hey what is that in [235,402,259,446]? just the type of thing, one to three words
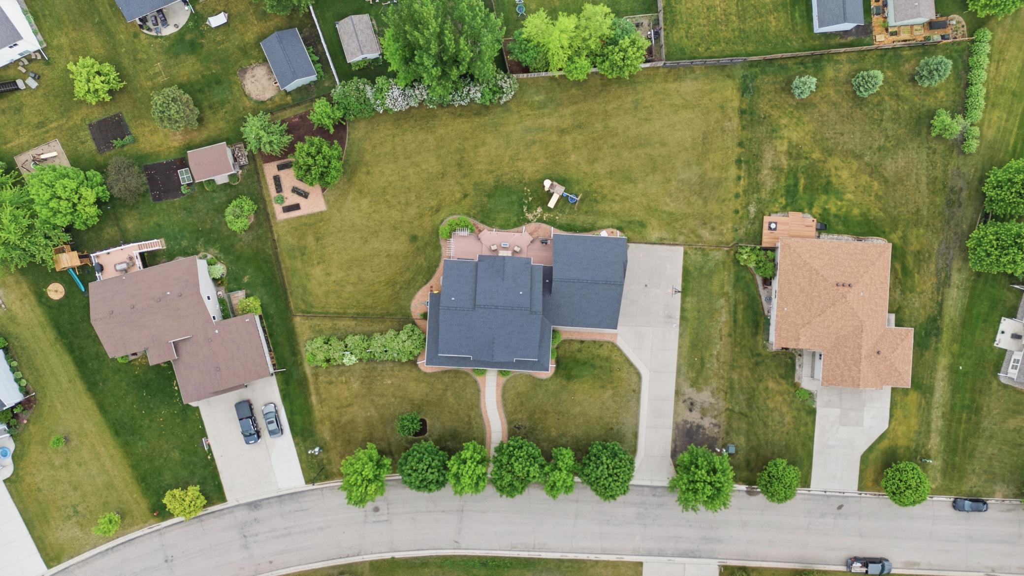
truck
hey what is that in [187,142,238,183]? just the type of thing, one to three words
shed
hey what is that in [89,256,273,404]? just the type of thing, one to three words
house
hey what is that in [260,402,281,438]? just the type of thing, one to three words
car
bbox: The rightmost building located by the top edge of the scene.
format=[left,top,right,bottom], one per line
[880,0,935,29]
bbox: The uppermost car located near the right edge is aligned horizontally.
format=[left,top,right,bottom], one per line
[955,498,991,516]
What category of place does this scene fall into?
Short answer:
residential area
